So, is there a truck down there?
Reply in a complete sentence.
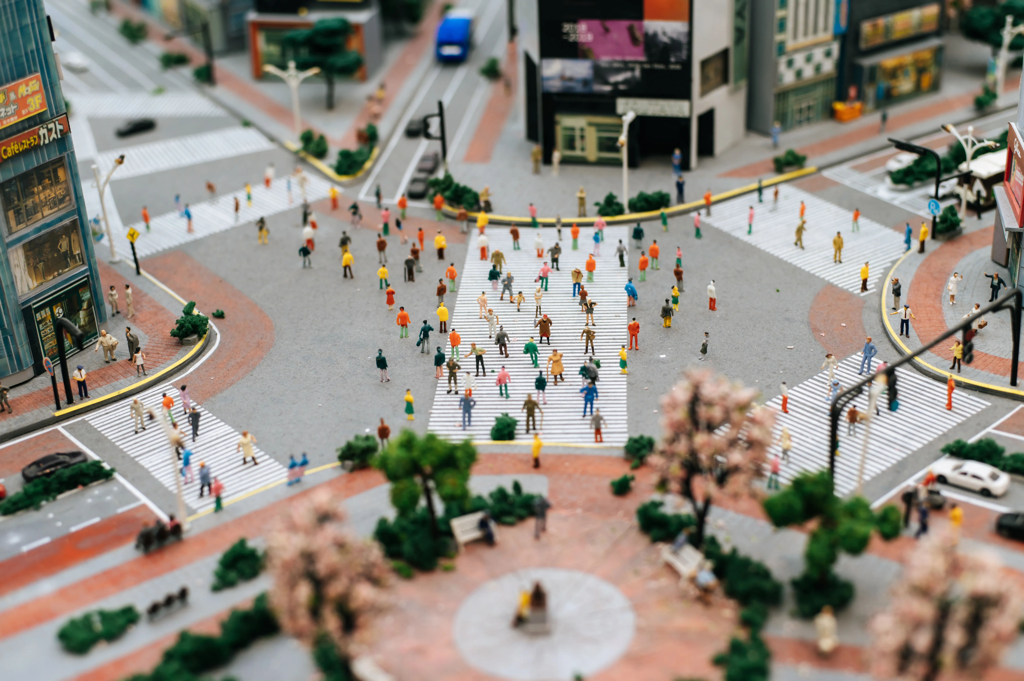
Yes, the image includes a truck.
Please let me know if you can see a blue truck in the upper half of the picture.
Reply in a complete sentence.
Yes, you'll find a blue truck in the upper half of the picture.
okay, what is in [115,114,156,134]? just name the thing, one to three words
car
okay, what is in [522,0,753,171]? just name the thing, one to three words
building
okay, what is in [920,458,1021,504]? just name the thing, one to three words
car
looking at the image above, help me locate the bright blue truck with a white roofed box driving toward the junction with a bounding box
[437,11,472,58]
